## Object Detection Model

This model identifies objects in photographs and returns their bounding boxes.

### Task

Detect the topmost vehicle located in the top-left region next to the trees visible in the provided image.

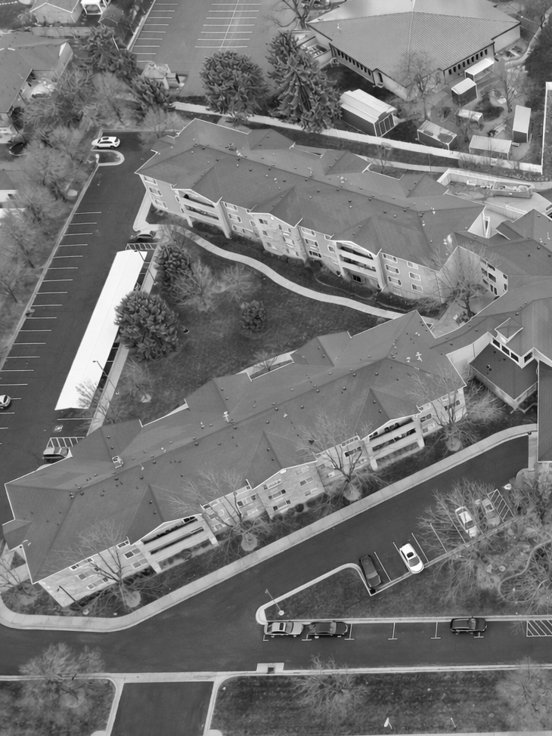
[92,136,119,149]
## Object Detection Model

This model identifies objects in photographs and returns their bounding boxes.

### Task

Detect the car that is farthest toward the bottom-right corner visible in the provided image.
[450,616,489,635]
